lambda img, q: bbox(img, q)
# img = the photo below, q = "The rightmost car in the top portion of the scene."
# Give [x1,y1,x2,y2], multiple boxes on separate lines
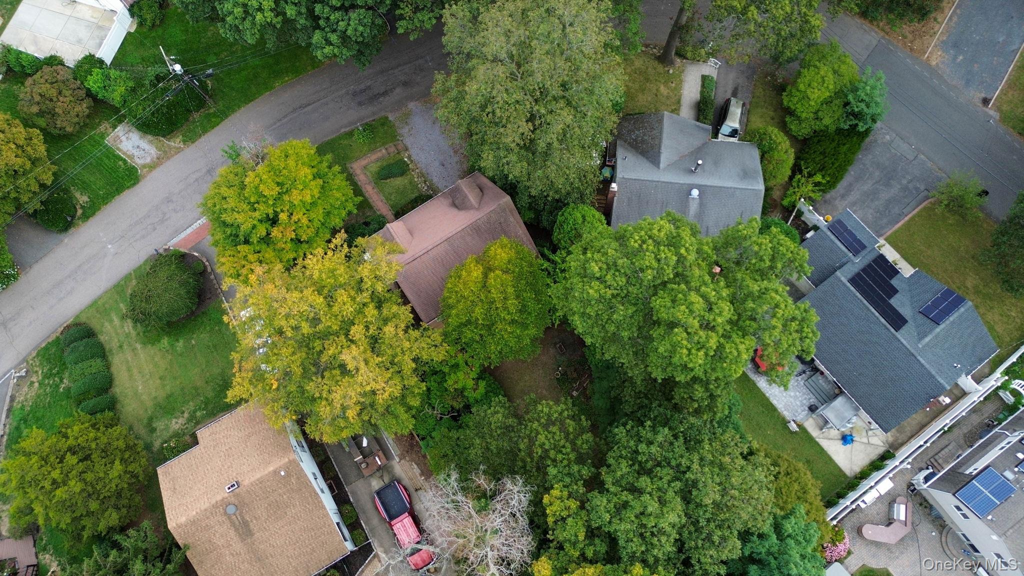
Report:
[715,91,754,142]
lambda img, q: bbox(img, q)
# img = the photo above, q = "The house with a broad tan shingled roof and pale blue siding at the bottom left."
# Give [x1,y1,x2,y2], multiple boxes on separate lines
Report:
[153,394,353,576]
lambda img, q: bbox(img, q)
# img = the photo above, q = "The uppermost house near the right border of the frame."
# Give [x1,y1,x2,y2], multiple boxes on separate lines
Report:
[779,208,1001,434]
